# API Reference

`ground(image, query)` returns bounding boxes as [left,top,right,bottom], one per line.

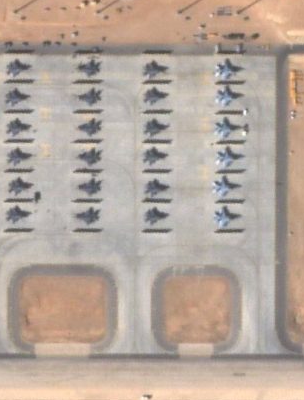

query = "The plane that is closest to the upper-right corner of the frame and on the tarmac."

[215,65,238,81]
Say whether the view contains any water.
No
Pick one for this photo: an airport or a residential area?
airport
